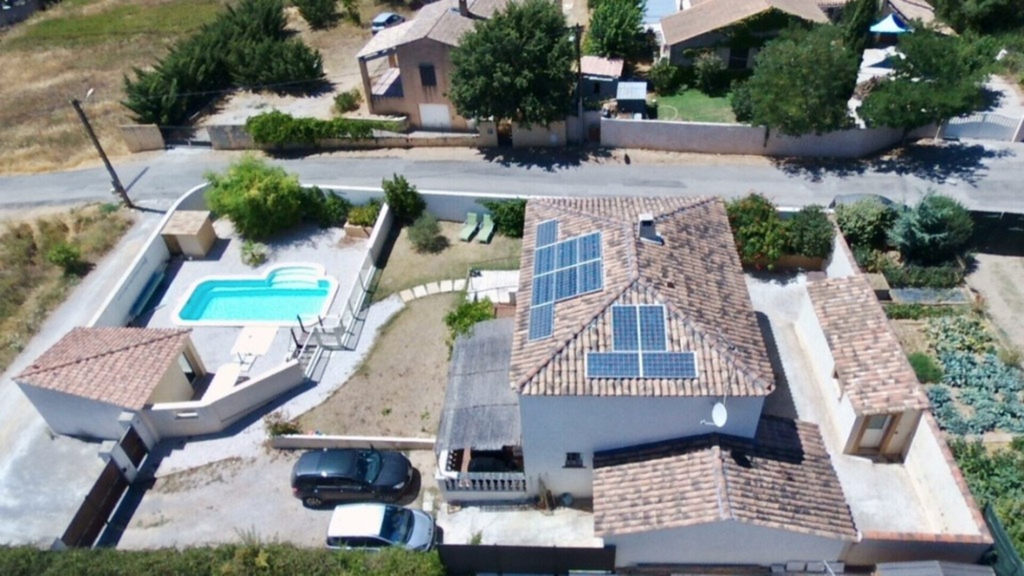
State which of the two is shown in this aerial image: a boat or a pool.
pool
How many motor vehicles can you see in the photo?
four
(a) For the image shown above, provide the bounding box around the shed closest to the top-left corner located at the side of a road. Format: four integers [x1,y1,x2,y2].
[153,203,217,258]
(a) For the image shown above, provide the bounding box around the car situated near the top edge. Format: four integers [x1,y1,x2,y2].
[364,15,403,36]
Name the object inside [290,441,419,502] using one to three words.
car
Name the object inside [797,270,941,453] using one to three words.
shed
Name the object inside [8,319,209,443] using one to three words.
building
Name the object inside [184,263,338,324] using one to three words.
swimming pool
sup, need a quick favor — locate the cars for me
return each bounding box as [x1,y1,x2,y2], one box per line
[364,15,403,36]
[823,188,912,224]
[316,500,439,563]
[290,441,419,502]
